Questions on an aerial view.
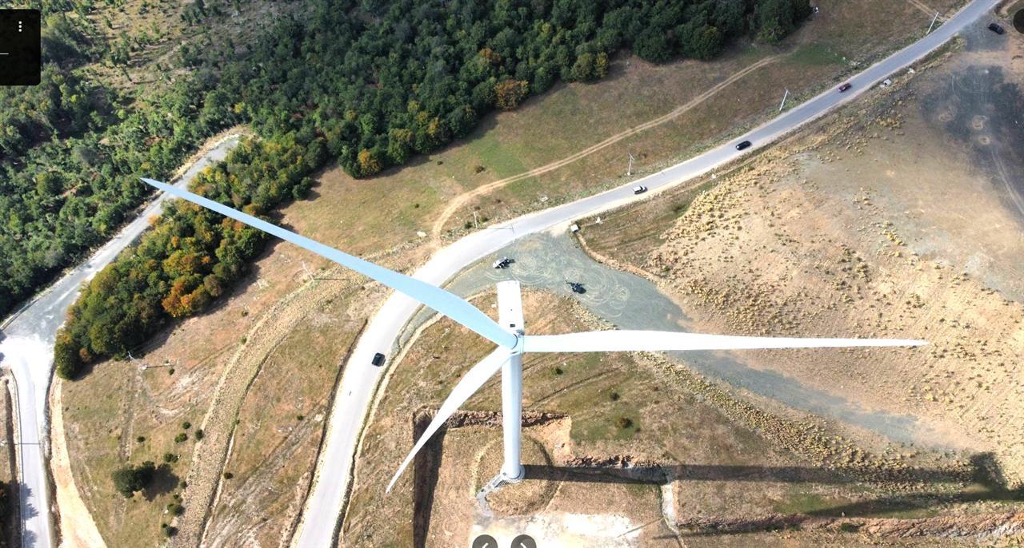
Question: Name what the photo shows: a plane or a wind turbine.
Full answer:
There is a wind turbine in the scene.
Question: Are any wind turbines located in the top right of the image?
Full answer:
No, no wind turbine is visible in the top right of the image.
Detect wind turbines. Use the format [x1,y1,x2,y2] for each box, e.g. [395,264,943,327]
[143,176,927,490]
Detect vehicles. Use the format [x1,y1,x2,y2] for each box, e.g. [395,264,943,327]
[838,82,852,92]
[990,23,1004,33]
[632,185,647,194]
[566,280,583,294]
[371,352,383,367]
[736,141,752,151]
[494,257,511,270]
